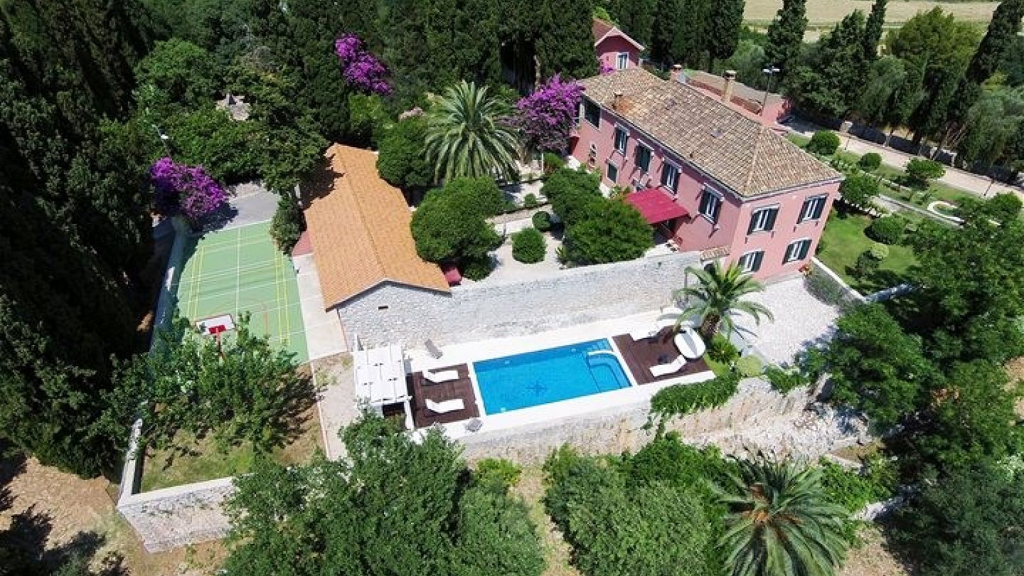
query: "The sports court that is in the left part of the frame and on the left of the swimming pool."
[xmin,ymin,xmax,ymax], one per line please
[143,220,306,388]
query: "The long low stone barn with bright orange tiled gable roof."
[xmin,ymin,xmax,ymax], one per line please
[300,139,452,353]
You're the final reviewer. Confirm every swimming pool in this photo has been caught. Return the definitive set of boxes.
[467,333,639,420]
